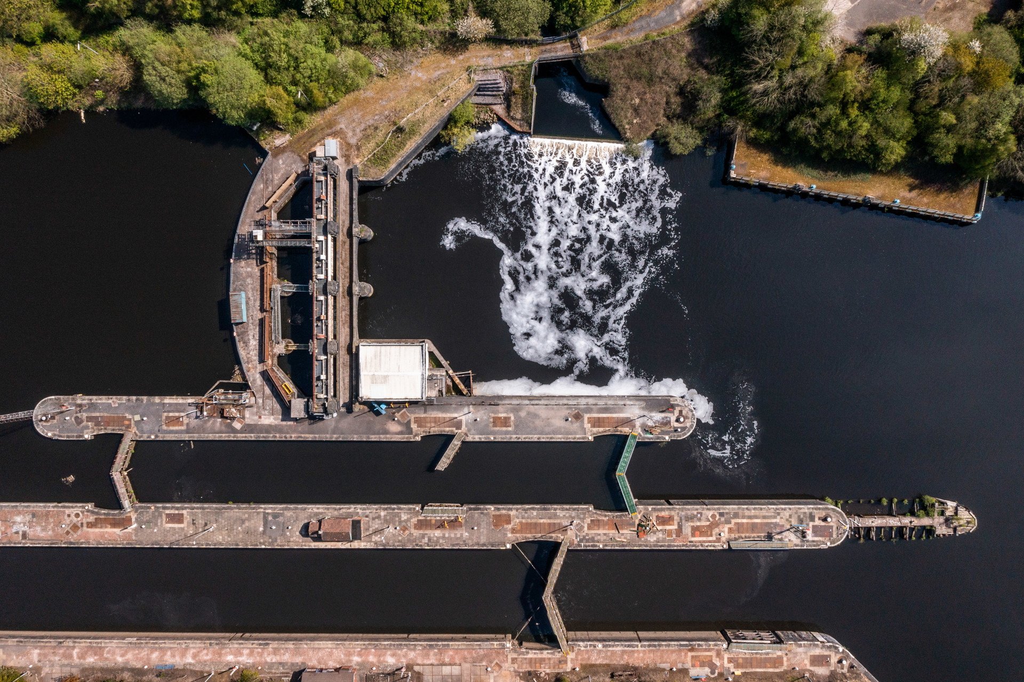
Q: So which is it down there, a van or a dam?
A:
dam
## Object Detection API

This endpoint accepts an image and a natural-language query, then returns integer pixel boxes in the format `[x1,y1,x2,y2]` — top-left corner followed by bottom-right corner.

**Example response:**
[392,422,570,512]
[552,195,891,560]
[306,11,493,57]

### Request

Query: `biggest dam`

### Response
[310,160,378,421]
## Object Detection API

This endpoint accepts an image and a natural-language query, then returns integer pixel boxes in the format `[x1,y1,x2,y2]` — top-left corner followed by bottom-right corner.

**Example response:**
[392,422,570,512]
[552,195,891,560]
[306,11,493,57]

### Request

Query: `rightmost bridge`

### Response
[525,35,588,63]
